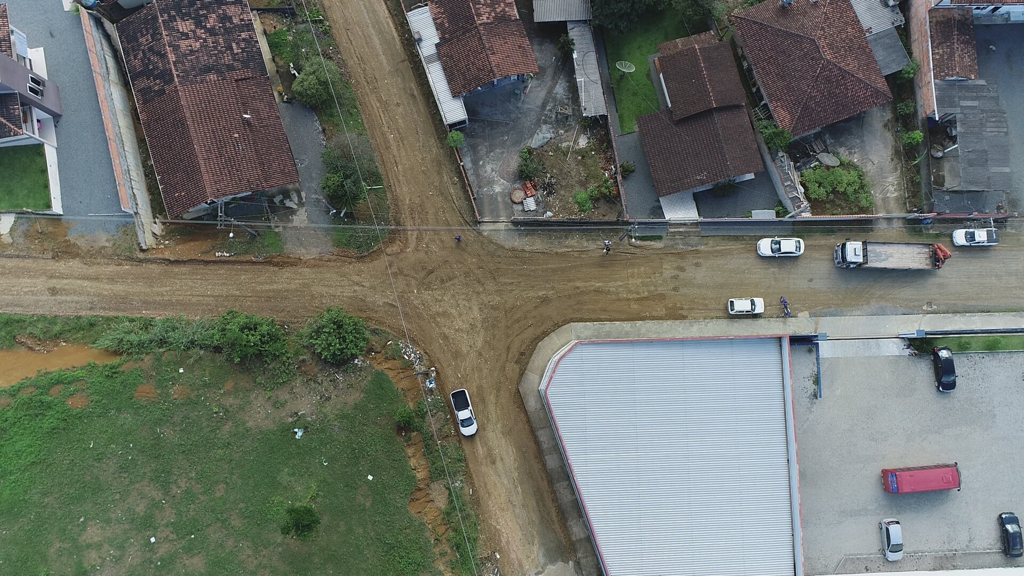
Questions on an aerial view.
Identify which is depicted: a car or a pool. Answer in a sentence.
I can see a car in this picture.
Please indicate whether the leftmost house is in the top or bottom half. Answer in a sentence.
The leftmost house sits in the top half of the picture.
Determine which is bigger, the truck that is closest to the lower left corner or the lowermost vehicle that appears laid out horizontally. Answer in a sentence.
Compared with the truck, the vehicle is the bigger one.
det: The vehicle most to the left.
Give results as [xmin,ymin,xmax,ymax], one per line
[450,389,479,437]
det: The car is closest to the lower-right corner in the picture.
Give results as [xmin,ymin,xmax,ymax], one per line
[992,513,1024,558]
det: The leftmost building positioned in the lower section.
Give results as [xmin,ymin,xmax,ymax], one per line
[540,338,803,576]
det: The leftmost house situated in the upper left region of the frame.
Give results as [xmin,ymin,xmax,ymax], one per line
[0,2,61,149]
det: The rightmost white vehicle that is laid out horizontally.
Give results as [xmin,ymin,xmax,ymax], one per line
[949,227,1001,249]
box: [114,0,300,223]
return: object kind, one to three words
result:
house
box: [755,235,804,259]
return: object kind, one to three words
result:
car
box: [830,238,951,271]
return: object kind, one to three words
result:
truck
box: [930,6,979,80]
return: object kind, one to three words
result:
building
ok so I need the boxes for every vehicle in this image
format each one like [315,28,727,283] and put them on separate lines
[779,297,793,315]
[992,513,1024,558]
[830,238,951,271]
[882,464,964,496]
[755,235,804,259]
[876,518,906,560]
[450,389,479,437]
[929,348,960,392]
[726,295,764,317]
[949,227,1001,249]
